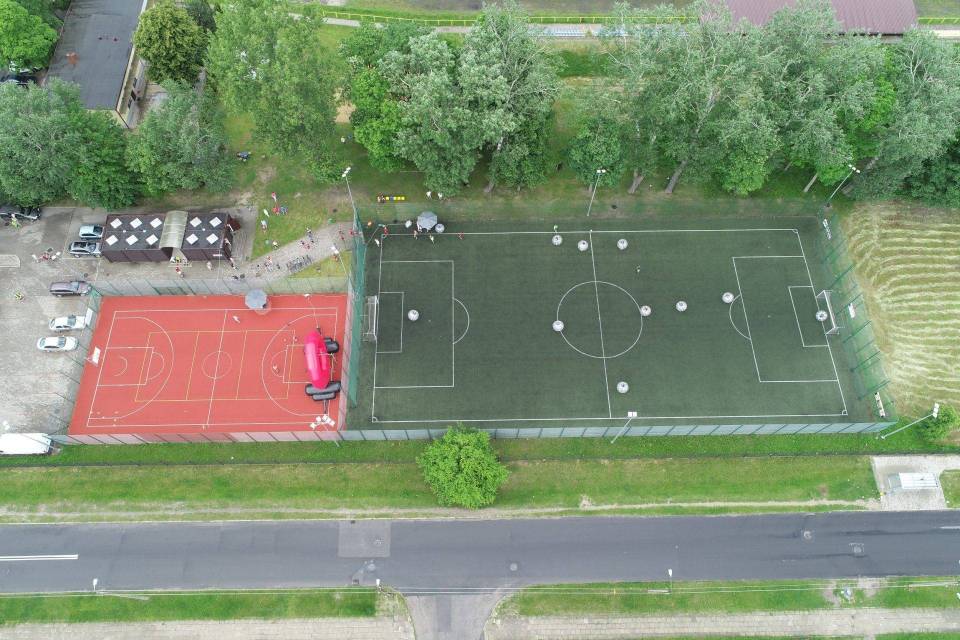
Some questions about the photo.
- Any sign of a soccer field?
Yes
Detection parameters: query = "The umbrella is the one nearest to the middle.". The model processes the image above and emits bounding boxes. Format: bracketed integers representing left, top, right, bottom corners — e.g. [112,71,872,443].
[417,216,439,238]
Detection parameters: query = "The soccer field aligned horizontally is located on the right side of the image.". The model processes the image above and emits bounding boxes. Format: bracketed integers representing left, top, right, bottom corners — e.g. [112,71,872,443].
[343,217,874,429]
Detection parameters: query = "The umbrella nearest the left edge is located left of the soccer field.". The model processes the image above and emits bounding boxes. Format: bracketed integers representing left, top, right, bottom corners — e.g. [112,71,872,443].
[245,291,268,313]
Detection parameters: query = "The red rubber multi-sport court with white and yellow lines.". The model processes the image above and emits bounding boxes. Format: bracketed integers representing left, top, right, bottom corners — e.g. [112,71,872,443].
[68,292,352,444]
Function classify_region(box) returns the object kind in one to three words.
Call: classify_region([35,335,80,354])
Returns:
car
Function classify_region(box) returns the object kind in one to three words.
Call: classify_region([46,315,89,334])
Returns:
car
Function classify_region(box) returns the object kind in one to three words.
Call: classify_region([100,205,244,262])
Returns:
shed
